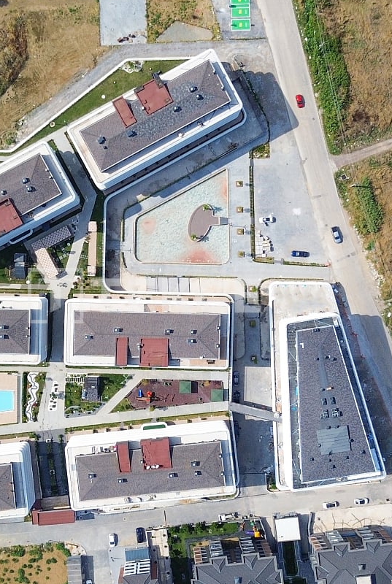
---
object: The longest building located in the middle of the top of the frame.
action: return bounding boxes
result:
[68,51,242,195]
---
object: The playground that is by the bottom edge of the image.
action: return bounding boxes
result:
[186,520,263,573]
